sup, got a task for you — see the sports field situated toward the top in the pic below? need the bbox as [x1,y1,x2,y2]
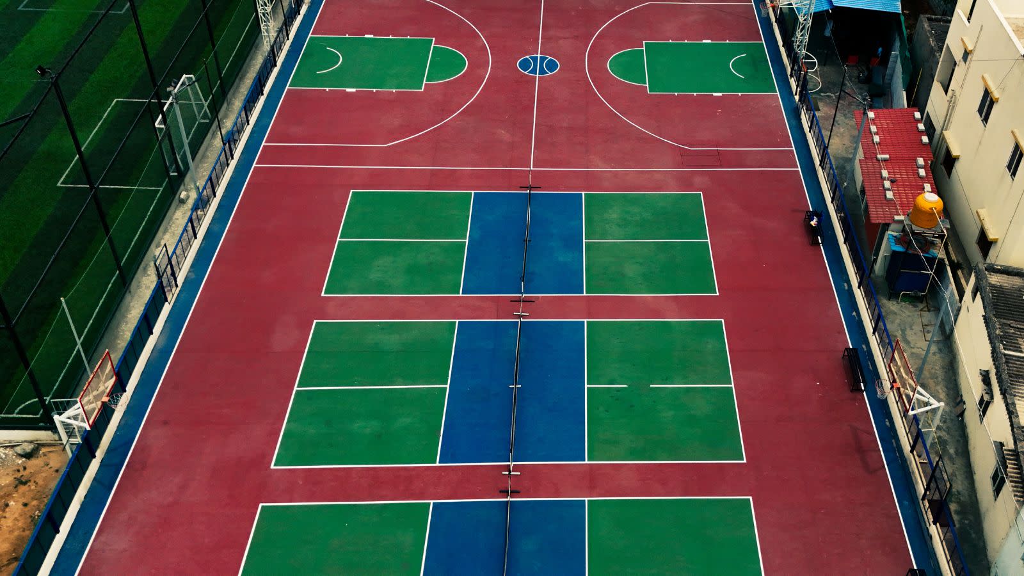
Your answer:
[0,0,273,419]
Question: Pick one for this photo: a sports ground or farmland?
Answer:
sports ground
